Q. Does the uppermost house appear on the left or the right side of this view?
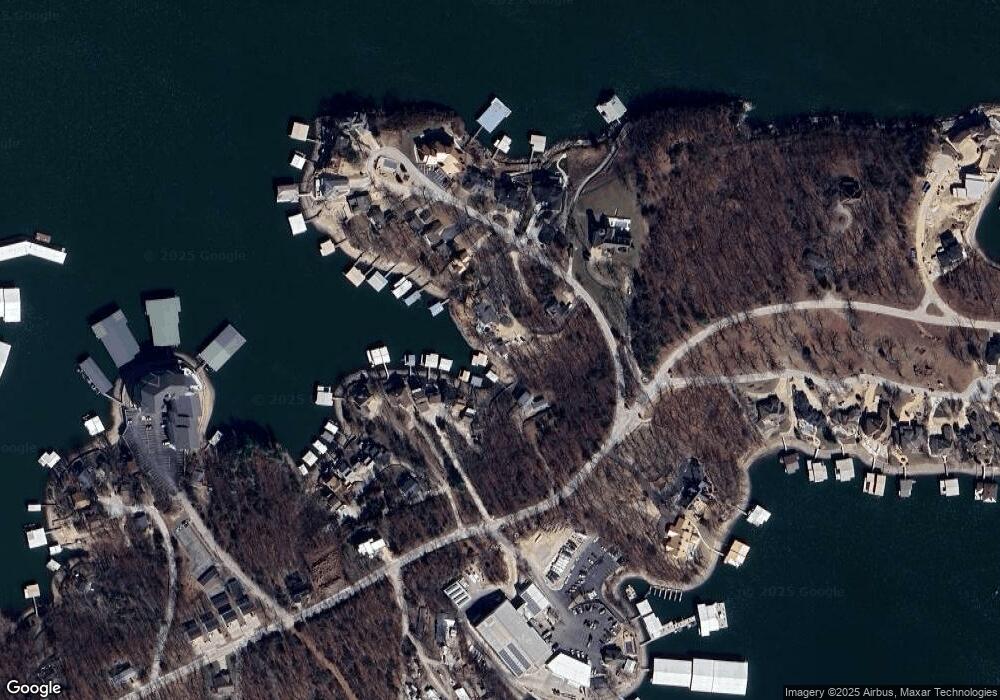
right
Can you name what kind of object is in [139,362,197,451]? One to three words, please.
building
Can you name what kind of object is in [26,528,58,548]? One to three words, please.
pier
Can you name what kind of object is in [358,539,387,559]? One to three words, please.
house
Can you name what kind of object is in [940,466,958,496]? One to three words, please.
pier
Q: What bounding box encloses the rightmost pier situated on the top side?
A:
[598,96,626,127]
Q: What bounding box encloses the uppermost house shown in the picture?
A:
[946,116,993,145]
